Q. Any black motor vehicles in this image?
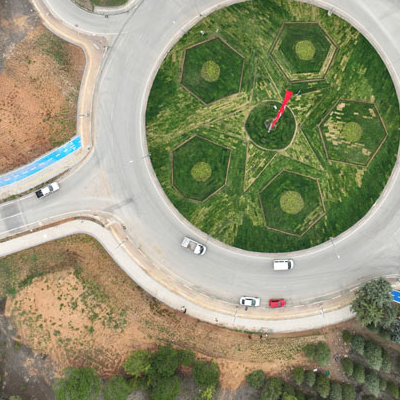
No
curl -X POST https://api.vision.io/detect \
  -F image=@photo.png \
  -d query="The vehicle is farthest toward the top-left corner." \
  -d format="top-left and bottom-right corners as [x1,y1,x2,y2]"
[34,180,60,198]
